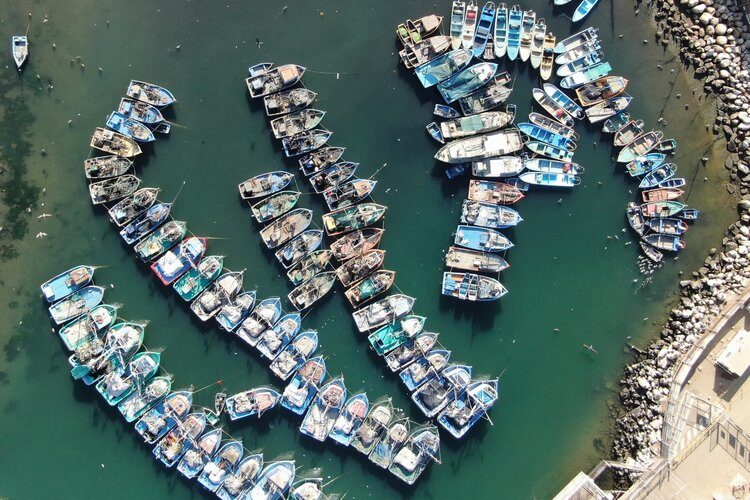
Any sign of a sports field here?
No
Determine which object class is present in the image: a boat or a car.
boat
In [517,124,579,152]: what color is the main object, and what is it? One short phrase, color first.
blue boat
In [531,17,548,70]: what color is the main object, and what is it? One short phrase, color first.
white boat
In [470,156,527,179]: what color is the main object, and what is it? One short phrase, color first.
white boat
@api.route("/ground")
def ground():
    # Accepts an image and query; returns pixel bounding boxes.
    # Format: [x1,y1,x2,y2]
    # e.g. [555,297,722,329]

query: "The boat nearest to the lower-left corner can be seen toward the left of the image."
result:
[64,365,91,381]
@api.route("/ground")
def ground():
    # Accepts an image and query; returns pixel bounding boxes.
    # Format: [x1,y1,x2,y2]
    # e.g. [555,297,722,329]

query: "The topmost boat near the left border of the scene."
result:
[11,36,29,69]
